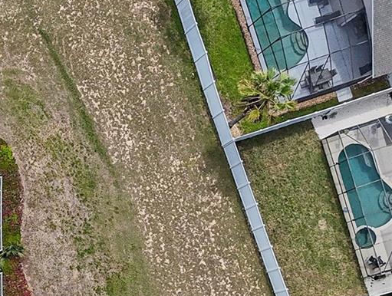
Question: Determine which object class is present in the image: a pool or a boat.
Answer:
pool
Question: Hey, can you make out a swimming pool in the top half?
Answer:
Yes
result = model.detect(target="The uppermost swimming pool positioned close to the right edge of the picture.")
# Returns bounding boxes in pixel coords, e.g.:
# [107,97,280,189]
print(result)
[339,141,392,231]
